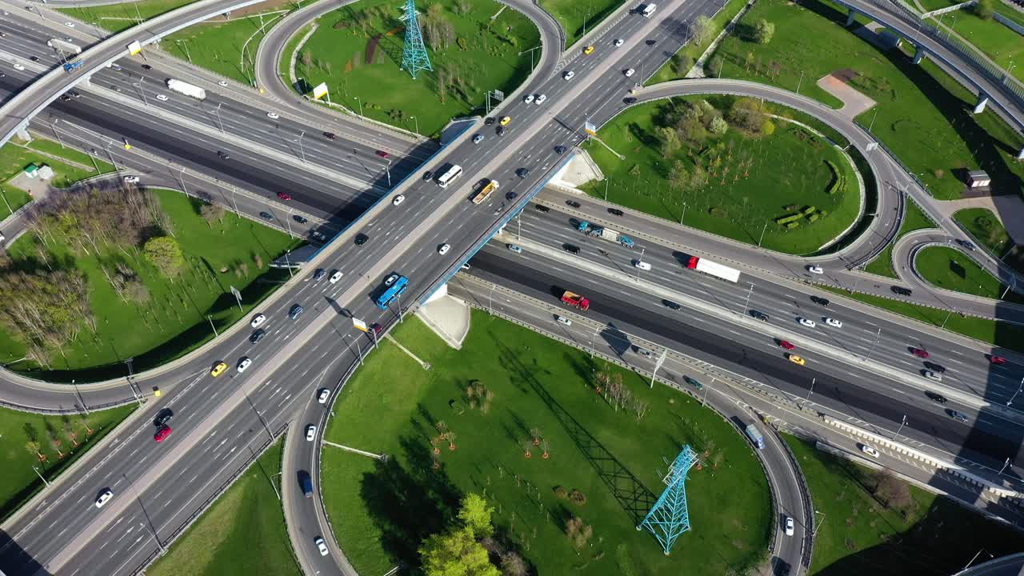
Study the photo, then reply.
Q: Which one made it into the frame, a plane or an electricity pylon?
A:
electricity pylon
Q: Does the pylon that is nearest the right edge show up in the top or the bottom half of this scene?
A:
bottom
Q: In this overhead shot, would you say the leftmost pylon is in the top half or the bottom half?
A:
top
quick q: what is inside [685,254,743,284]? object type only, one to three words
truck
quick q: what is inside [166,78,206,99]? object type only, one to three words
truck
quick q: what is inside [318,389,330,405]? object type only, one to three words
vehicle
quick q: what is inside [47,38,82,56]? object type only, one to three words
vehicle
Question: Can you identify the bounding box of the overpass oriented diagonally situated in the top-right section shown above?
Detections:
[806,0,1024,157]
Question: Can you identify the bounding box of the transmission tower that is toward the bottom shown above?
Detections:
[636,443,696,555]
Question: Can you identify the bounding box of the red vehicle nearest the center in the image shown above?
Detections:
[560,291,589,311]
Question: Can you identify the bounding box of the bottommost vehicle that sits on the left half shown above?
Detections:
[315,537,328,557]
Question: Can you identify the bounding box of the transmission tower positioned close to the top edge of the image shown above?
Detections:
[399,0,434,79]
